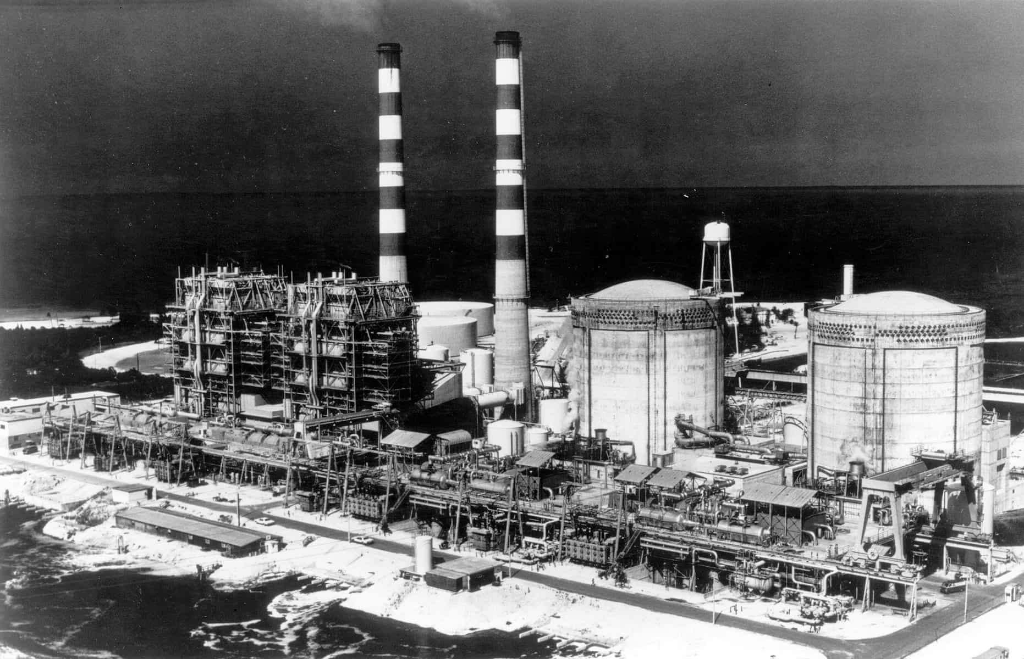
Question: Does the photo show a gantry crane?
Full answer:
Yes, a gantry crane appears in the view.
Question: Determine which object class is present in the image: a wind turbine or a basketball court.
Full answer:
Of the two, only a wind turbine appears.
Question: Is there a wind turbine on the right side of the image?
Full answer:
No, looking on the right side of the image, there is no wind turbine.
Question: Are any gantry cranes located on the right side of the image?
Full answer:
Yes, a gantry crane appears on the right side of the image.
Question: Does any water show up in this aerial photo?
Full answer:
Yes, there's water in this view.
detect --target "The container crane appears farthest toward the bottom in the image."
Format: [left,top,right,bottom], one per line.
[831,447,998,570]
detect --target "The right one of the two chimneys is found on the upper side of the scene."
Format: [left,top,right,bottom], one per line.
[489,30,536,426]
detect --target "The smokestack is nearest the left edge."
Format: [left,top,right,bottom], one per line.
[372,42,411,322]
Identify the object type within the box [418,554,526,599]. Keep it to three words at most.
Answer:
building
